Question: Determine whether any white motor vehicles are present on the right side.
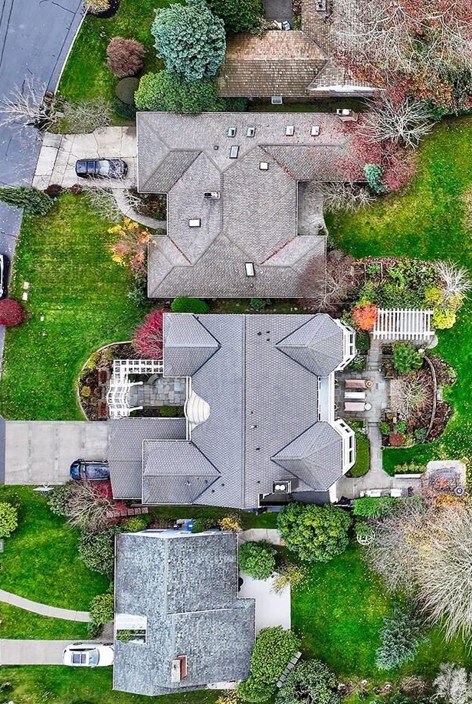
No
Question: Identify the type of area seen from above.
residential area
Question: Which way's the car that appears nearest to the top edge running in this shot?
horizontally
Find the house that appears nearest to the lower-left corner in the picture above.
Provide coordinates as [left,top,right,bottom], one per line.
[113,527,264,694]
